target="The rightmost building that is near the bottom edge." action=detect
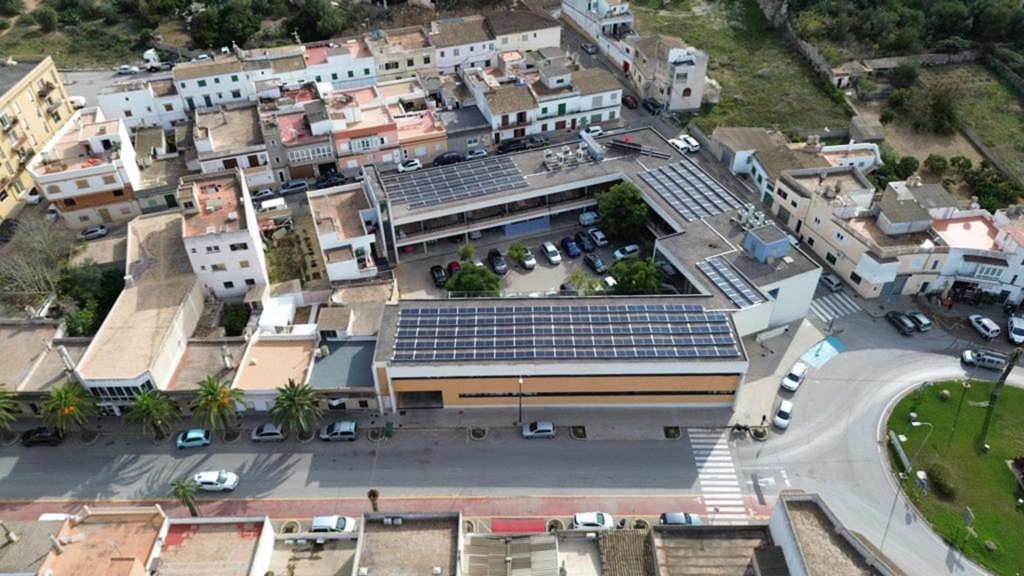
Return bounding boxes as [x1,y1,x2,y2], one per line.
[769,491,913,576]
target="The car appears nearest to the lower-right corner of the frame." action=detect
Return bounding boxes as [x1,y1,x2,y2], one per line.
[961,350,1010,370]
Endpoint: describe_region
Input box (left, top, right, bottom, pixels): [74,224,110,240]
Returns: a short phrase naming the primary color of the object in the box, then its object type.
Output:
gray car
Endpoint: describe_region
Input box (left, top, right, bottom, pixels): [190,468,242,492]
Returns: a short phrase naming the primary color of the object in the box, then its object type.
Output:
white car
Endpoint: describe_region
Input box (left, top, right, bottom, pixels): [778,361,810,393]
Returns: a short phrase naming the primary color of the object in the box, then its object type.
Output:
white car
